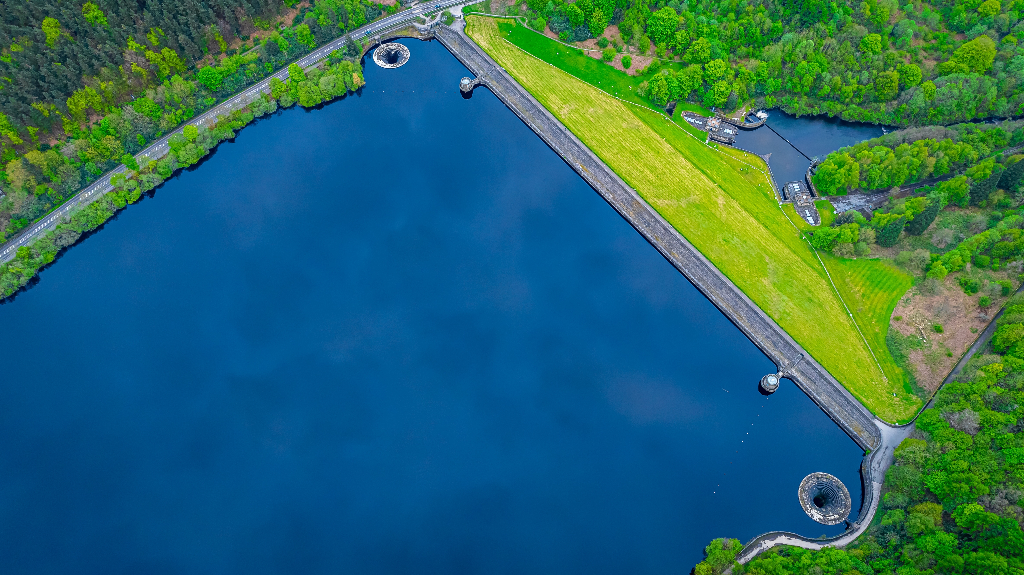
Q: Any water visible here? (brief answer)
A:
Yes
